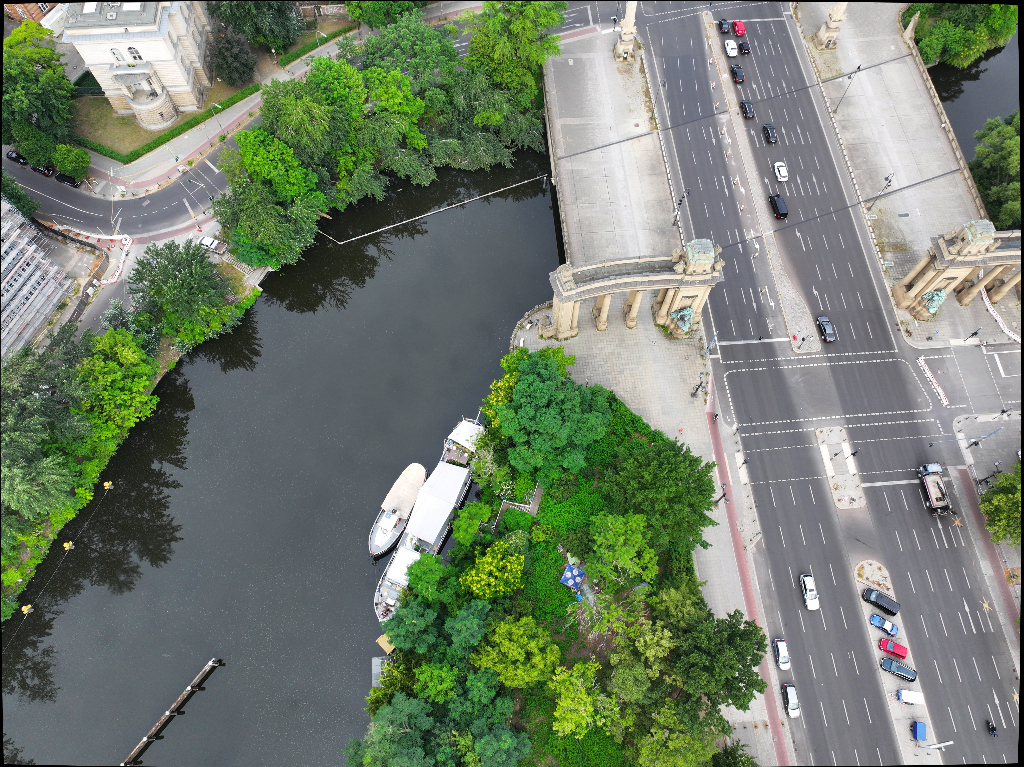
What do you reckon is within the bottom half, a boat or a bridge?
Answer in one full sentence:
You can see a boat within the bottom half.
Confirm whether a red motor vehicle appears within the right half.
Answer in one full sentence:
Yes, there is a red motor vehicle within the right half.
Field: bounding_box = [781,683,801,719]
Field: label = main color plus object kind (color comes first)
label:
white car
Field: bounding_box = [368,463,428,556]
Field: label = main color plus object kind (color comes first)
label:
white boat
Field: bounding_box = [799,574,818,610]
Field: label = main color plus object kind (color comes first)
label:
white car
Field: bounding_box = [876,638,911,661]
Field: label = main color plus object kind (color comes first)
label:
red car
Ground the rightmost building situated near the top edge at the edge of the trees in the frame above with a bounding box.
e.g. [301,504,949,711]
[65,0,217,131]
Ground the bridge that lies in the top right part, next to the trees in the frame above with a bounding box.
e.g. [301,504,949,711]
[543,5,982,268]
